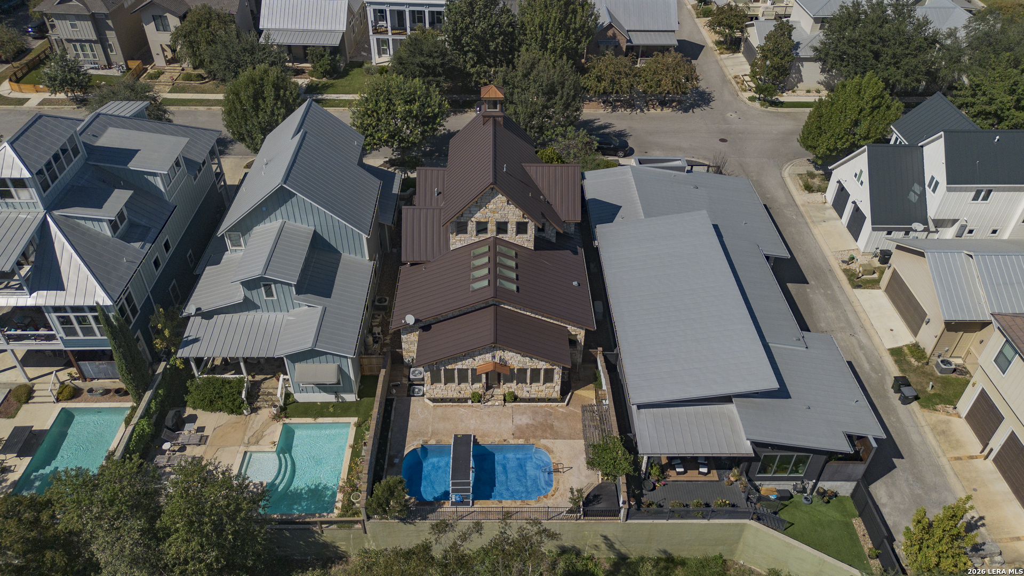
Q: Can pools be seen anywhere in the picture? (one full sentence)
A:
Yes, the picture does show a pool.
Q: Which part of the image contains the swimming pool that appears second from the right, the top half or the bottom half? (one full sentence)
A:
Seen from above, the swimming pool that appears second from the right lies in the bottom half of the view.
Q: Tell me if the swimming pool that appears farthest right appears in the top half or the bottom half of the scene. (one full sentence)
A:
It is in the bottom half that the swimming pool that appears farthest right appears.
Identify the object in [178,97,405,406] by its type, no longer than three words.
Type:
house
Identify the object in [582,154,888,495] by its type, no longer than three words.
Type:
house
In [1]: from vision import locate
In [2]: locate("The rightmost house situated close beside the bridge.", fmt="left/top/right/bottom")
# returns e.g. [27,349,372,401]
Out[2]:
[389,83,598,411]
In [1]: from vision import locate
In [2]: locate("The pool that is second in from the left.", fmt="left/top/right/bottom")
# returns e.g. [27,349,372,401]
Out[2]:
[228,419,355,518]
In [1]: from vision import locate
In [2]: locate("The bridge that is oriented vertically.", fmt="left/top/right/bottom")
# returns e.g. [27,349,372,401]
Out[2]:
[448,435,474,507]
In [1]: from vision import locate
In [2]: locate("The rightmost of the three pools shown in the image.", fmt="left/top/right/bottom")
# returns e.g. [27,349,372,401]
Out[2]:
[395,437,562,509]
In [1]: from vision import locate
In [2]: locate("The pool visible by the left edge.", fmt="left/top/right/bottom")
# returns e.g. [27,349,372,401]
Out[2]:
[0,402,133,513]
